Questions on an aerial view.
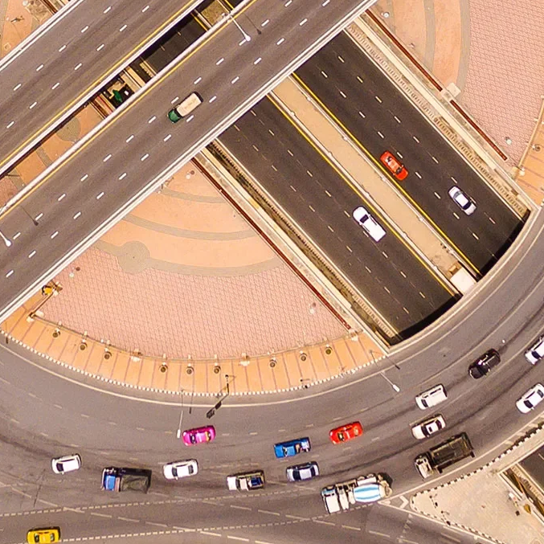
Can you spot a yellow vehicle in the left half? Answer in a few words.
Yes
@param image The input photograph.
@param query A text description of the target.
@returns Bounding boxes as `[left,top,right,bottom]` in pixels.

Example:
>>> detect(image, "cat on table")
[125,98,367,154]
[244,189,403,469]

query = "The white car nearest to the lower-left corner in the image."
[51,453,81,472]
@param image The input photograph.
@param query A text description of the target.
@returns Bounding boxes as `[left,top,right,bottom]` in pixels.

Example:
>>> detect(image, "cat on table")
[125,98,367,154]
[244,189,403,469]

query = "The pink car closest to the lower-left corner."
[184,424,215,443]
